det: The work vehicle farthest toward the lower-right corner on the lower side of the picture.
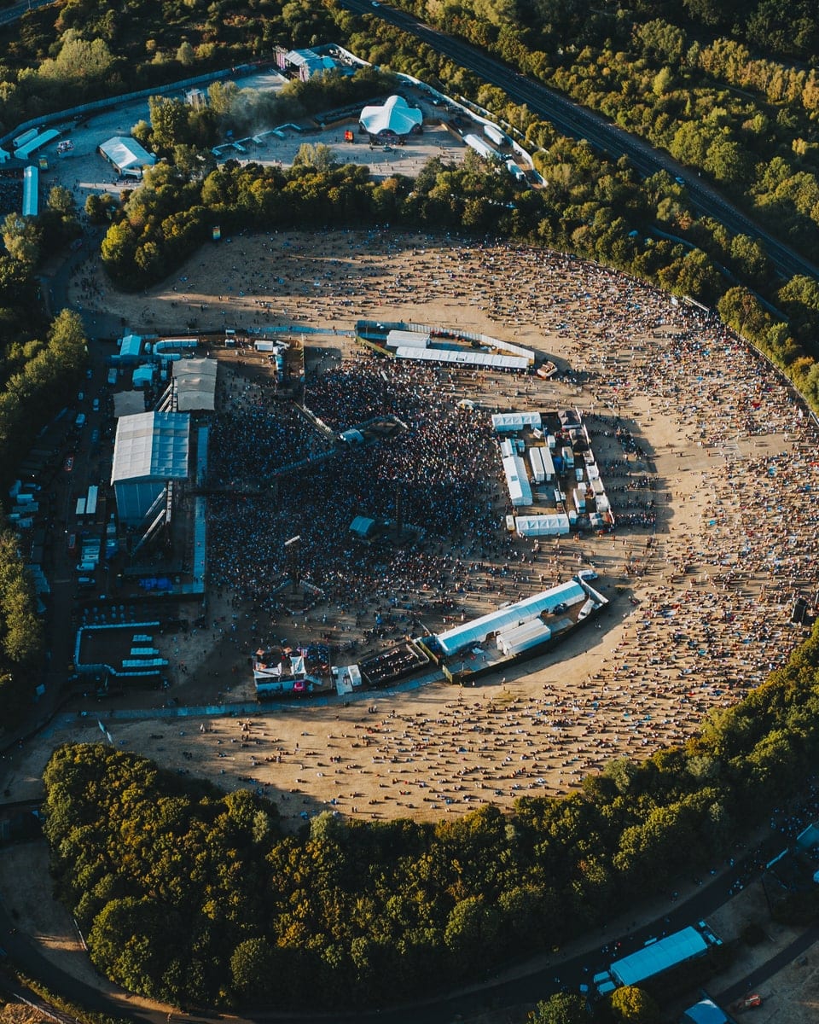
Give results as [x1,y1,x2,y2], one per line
[743,994,767,1011]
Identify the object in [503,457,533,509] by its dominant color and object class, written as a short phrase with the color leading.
white tent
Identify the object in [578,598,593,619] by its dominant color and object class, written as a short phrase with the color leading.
white vehicle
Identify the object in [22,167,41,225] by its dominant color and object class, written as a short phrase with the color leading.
blue tent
